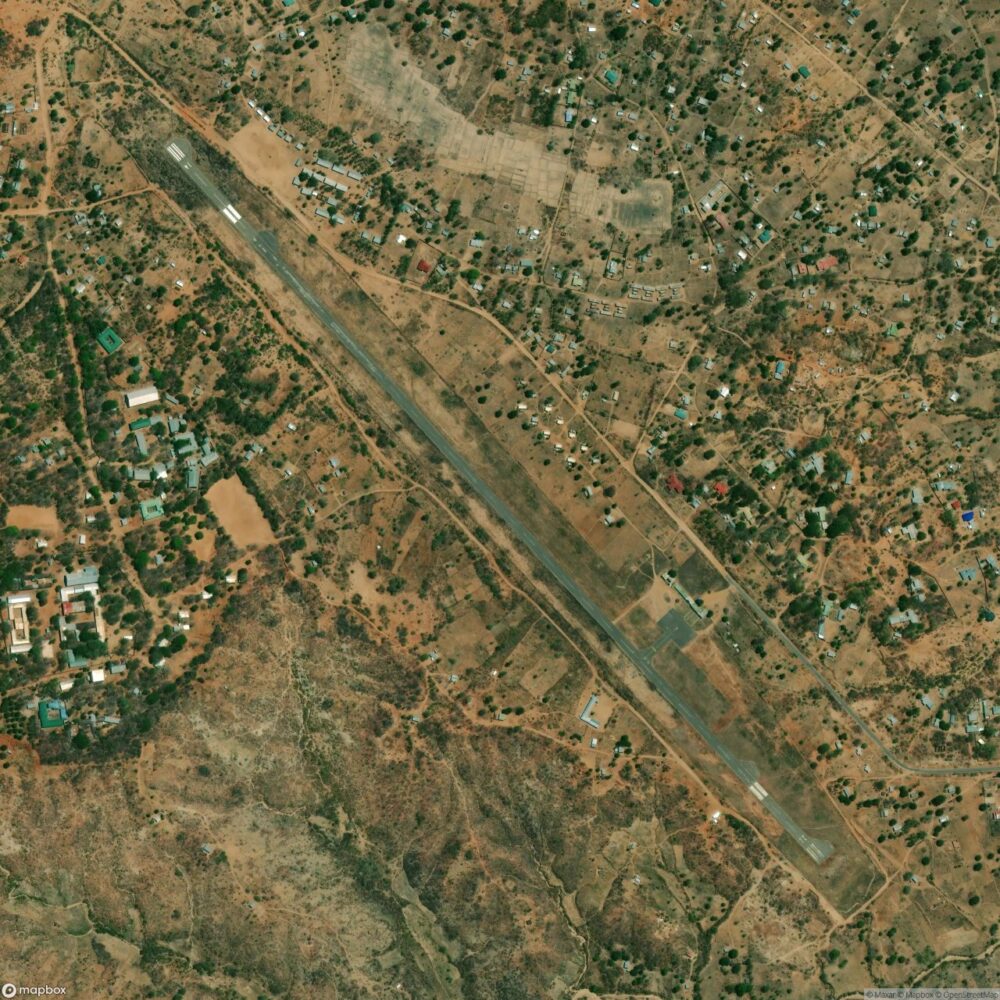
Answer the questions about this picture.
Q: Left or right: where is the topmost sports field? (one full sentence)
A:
You can find the topmost sports field on the left side of the picture.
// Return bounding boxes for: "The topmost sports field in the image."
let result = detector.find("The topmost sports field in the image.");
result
[229,121,302,196]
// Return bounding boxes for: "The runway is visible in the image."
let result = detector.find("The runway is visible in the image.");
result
[164,140,826,864]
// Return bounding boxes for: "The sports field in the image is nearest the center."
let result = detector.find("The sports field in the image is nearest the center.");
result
[207,475,275,548]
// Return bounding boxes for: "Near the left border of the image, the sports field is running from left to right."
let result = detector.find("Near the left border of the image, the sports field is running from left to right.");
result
[7,505,60,529]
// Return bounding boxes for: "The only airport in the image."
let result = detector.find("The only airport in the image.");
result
[164,137,831,864]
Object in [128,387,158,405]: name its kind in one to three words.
building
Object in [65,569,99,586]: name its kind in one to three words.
building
